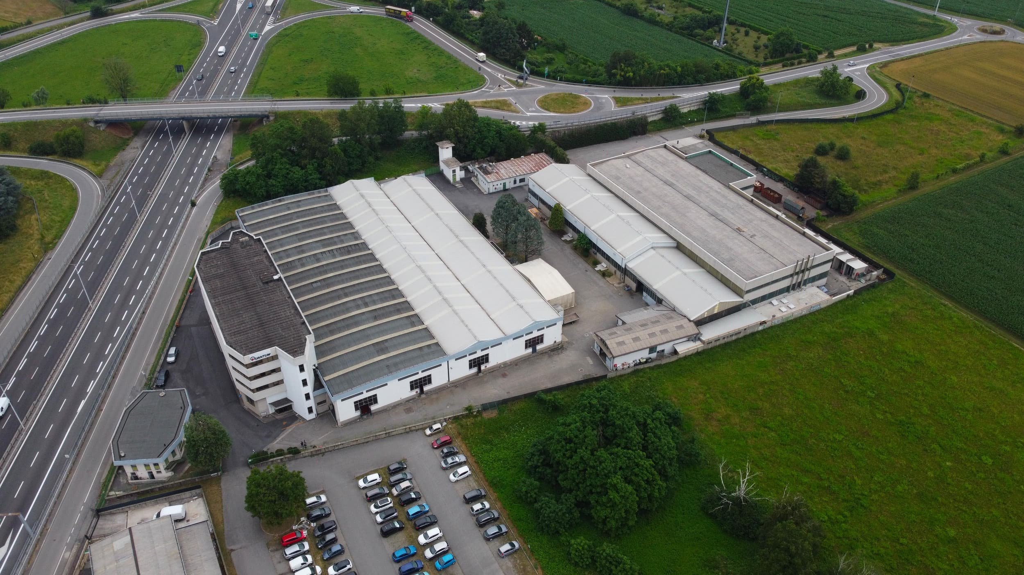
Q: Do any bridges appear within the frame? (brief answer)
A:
Yes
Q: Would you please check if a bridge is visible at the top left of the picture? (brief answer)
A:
Yes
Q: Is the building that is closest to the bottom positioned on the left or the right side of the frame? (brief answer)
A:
left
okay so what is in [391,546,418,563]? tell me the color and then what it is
blue car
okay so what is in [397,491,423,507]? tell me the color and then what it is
black car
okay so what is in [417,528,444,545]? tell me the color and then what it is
white car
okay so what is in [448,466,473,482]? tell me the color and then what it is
white car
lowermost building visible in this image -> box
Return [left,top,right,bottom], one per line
[86,514,221,575]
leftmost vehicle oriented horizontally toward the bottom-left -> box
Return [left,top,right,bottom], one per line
[154,504,188,521]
